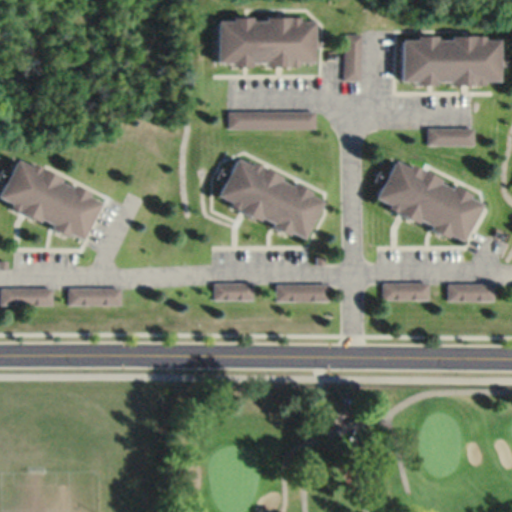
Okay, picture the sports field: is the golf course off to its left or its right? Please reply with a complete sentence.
To the right of the sports field is where the golf course appears.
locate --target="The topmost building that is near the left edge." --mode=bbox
[1,160,104,241]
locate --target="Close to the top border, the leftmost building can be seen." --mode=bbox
[218,16,318,71]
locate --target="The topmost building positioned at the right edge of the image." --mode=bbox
[402,36,504,90]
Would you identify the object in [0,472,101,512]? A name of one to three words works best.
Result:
sports field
